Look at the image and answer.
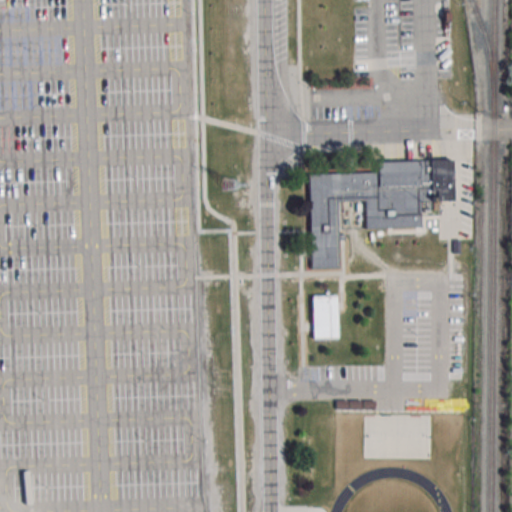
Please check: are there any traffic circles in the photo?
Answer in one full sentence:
No, there is no traffic circle in the image.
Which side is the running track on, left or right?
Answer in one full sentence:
You can find the running track on the right side of the picture.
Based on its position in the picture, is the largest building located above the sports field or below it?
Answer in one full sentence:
Looking at the photo, you'll find the largest building above the sports field.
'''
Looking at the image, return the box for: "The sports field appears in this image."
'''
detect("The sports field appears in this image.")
[330,412,462,512]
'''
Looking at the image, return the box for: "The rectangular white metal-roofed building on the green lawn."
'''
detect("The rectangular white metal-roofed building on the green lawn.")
[310,290,340,342]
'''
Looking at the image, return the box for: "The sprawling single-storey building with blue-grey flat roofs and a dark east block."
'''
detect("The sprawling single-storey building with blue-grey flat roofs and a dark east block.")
[308,157,456,269]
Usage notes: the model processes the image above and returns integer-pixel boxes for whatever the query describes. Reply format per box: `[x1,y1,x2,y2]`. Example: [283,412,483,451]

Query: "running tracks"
[332,468,452,512]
